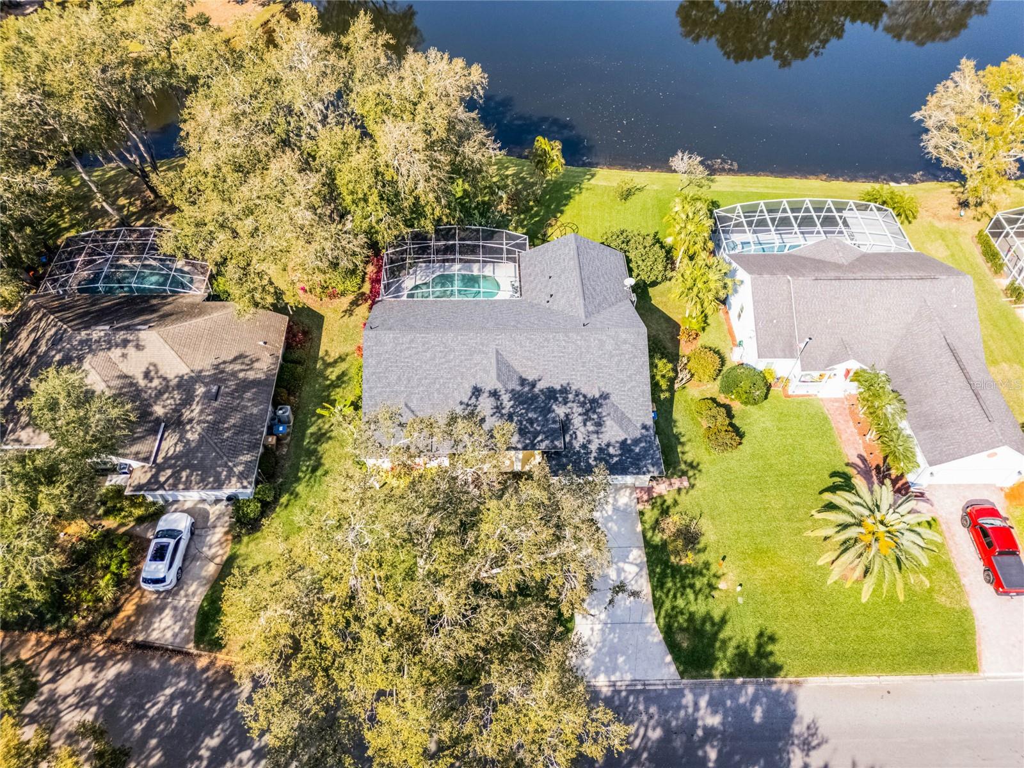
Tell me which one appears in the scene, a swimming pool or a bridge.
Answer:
swimming pool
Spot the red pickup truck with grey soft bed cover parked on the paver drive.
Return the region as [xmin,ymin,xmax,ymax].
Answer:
[968,499,1024,600]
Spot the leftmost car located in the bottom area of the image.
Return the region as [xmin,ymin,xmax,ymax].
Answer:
[137,506,199,588]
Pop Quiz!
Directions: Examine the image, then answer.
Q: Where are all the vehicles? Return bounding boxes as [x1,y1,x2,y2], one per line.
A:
[137,506,199,588]
[968,499,1024,600]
